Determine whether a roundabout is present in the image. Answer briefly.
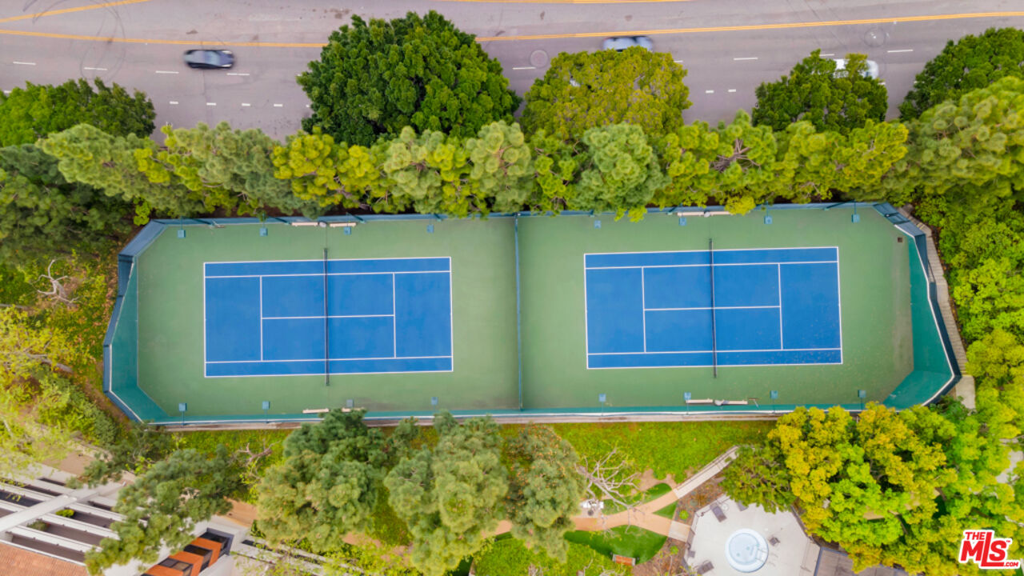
No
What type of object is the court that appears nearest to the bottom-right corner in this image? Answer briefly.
tennis court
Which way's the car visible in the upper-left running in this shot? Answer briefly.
from side to side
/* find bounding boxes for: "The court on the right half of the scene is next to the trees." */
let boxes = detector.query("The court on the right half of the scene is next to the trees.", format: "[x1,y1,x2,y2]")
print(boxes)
[517,206,913,409]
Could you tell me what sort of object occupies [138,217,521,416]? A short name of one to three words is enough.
tennis court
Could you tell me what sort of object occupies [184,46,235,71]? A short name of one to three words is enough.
car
